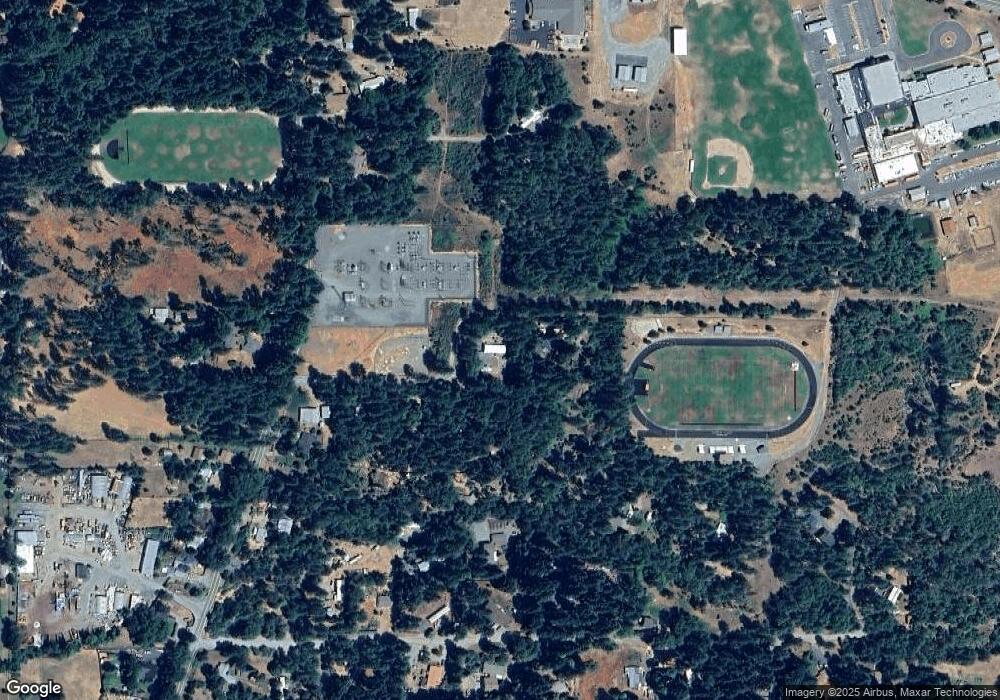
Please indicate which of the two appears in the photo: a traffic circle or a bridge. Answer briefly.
traffic circle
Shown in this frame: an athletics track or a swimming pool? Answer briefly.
athletics track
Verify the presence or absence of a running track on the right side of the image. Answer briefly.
Yes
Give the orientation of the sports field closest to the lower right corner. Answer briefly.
horizontally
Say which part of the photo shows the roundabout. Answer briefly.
top right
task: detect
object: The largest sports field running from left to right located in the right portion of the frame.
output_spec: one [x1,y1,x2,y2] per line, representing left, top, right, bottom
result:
[634,348,808,428]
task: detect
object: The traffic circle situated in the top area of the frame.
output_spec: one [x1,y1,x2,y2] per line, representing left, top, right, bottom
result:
[893,21,972,71]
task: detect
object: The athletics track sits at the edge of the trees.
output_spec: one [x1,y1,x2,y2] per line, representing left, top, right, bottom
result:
[631,336,818,439]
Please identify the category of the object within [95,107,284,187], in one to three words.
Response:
sports field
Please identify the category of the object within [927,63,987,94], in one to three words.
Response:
building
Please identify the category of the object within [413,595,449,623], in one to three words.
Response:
house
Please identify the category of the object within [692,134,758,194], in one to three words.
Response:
baseball field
